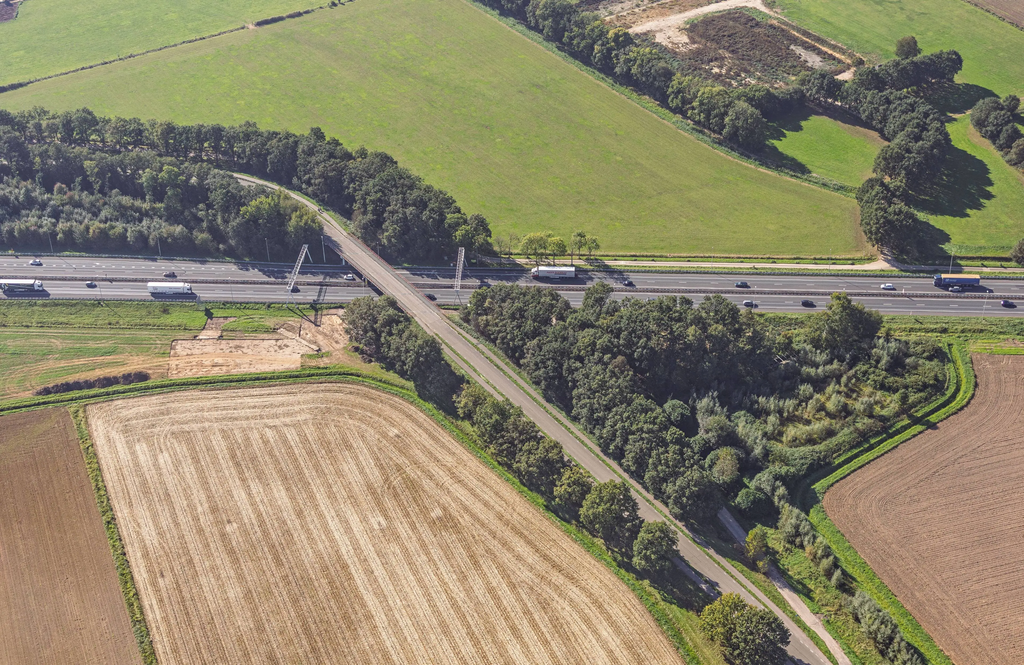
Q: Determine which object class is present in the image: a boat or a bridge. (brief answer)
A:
bridge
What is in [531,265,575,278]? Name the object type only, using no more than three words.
vehicle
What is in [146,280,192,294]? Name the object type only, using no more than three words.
vehicle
